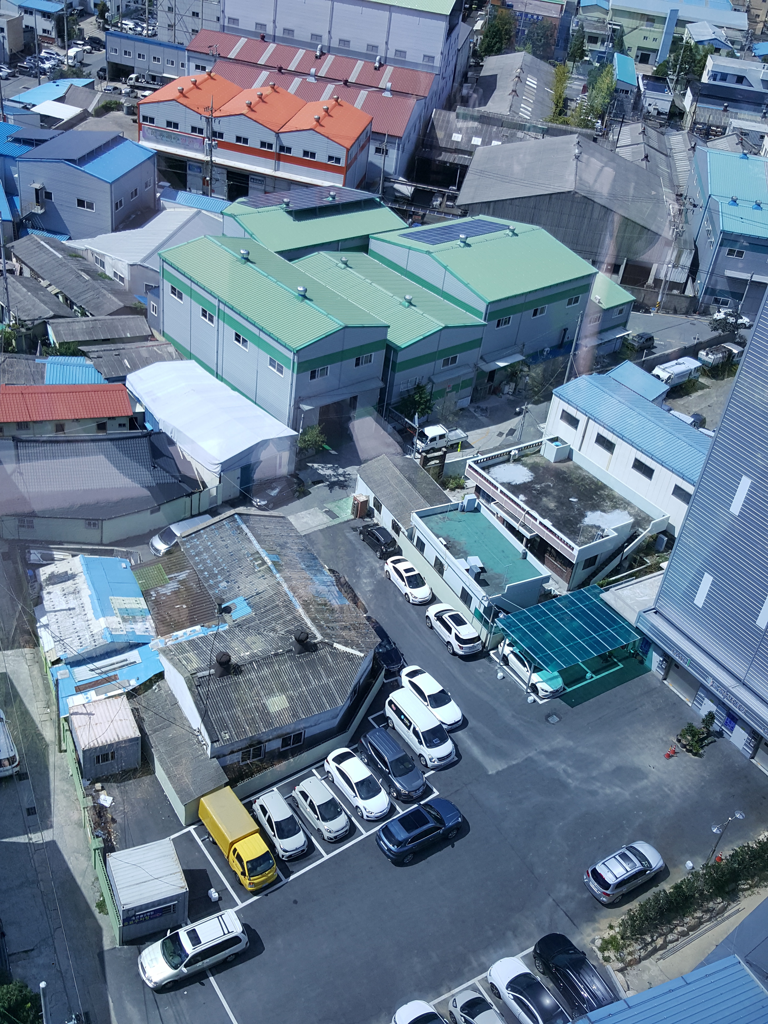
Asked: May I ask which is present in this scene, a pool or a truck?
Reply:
truck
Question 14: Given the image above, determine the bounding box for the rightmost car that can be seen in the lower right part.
[580,842,669,906]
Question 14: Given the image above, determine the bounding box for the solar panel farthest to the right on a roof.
[399,219,508,245]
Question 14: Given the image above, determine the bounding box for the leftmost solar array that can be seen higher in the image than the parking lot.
[227,185,382,217]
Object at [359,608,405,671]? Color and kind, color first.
black car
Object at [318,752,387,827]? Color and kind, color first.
white car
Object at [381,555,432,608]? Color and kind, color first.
white car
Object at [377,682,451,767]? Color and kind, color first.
white van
